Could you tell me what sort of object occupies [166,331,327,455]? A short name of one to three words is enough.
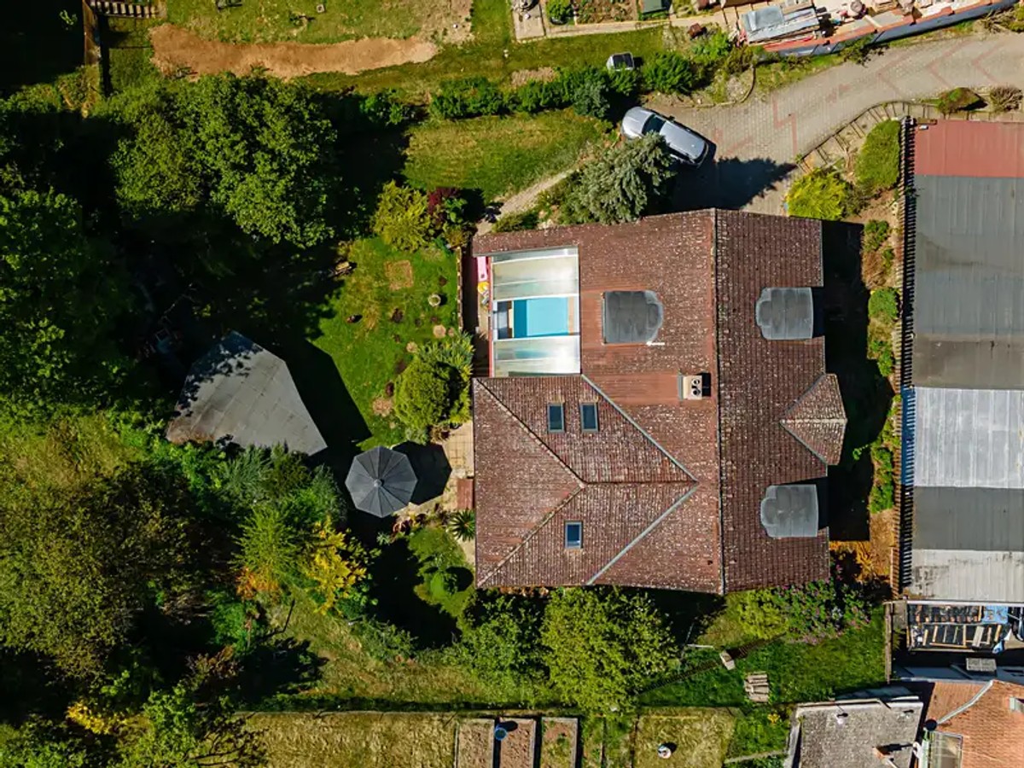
shed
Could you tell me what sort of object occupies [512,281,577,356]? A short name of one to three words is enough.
swimming pool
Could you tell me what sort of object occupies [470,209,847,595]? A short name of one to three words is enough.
house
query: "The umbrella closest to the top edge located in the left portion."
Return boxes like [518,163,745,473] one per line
[346,446,418,519]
